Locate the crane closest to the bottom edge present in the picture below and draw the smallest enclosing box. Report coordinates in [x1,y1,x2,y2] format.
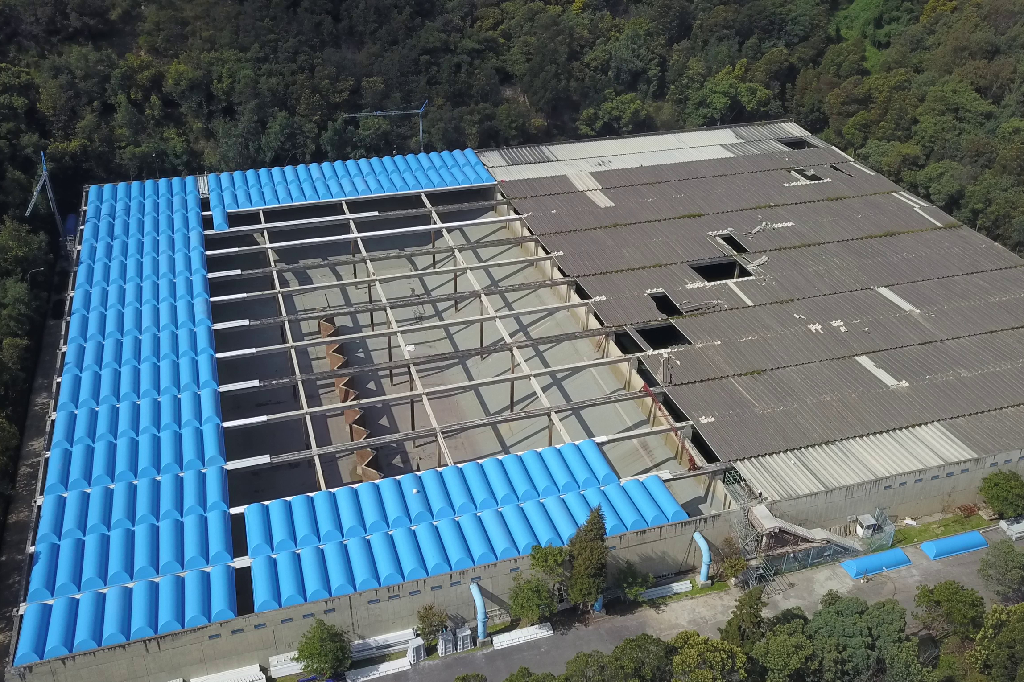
[25,140,68,247]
